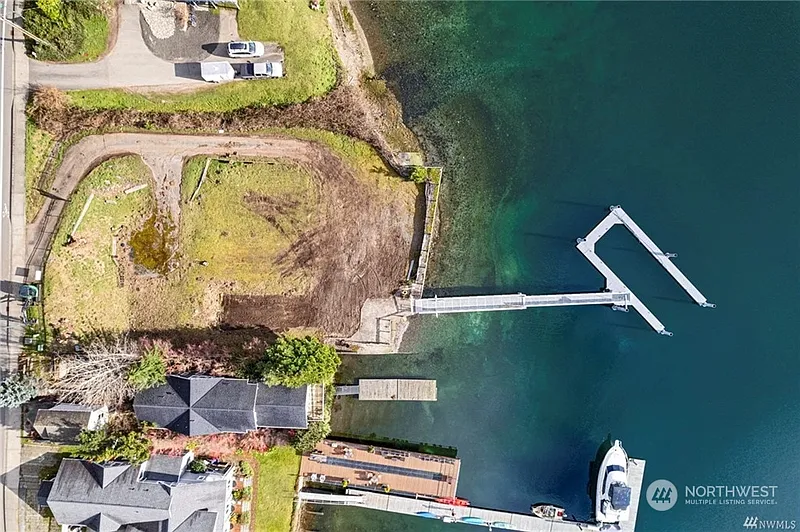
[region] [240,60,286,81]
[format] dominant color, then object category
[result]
white truck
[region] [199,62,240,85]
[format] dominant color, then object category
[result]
white trailer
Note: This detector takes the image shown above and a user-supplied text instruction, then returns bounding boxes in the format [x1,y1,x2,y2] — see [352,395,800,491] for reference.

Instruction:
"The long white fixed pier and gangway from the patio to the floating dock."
[412,290,635,318]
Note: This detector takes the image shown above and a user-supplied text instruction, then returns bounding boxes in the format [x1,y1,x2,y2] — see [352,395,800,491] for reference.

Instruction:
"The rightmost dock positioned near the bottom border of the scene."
[611,457,645,532]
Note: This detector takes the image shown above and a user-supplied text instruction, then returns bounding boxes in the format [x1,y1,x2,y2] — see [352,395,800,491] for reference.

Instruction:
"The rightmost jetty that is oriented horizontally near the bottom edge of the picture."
[346,488,612,532]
